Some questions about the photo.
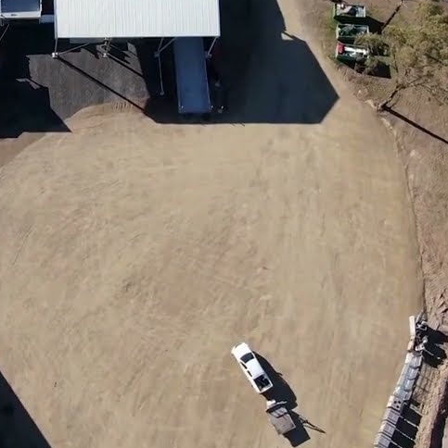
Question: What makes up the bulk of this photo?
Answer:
paved ground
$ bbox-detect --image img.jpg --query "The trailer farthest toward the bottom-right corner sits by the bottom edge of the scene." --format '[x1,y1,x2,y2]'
[267,396,303,434]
